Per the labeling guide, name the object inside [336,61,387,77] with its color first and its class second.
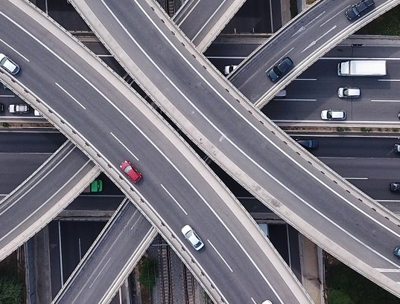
white vehicle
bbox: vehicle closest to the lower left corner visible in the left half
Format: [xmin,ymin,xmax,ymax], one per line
[81,178,104,194]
